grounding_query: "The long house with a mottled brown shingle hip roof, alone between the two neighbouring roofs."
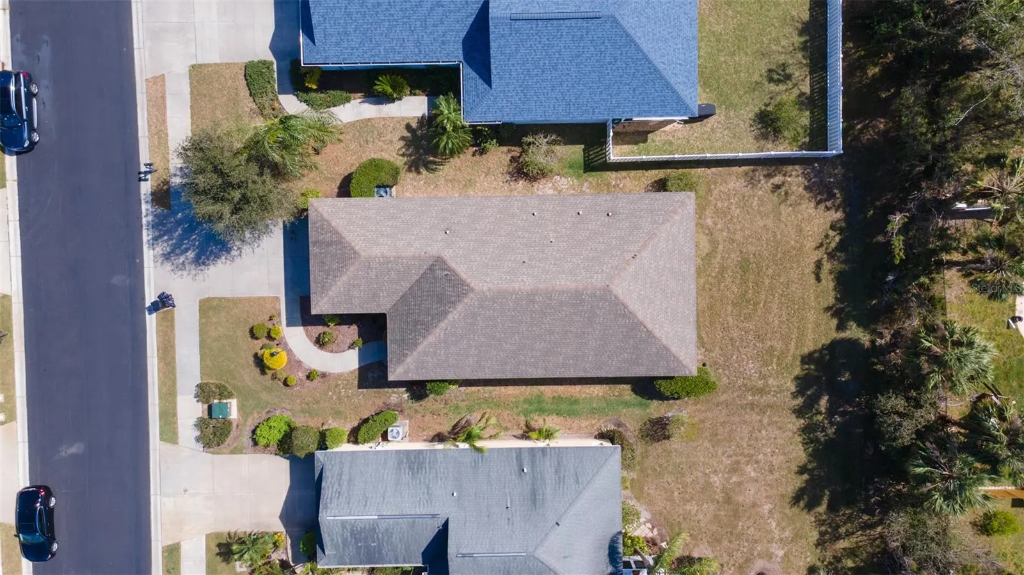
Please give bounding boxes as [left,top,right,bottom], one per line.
[308,192,699,381]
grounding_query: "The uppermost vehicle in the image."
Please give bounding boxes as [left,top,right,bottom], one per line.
[0,67,38,151]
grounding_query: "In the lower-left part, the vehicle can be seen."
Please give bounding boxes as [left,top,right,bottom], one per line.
[13,484,58,562]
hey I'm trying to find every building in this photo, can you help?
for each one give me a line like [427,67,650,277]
[314,437,624,575]
[300,0,704,127]
[308,192,699,381]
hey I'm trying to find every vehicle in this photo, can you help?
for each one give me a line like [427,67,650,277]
[0,67,38,151]
[13,484,58,562]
